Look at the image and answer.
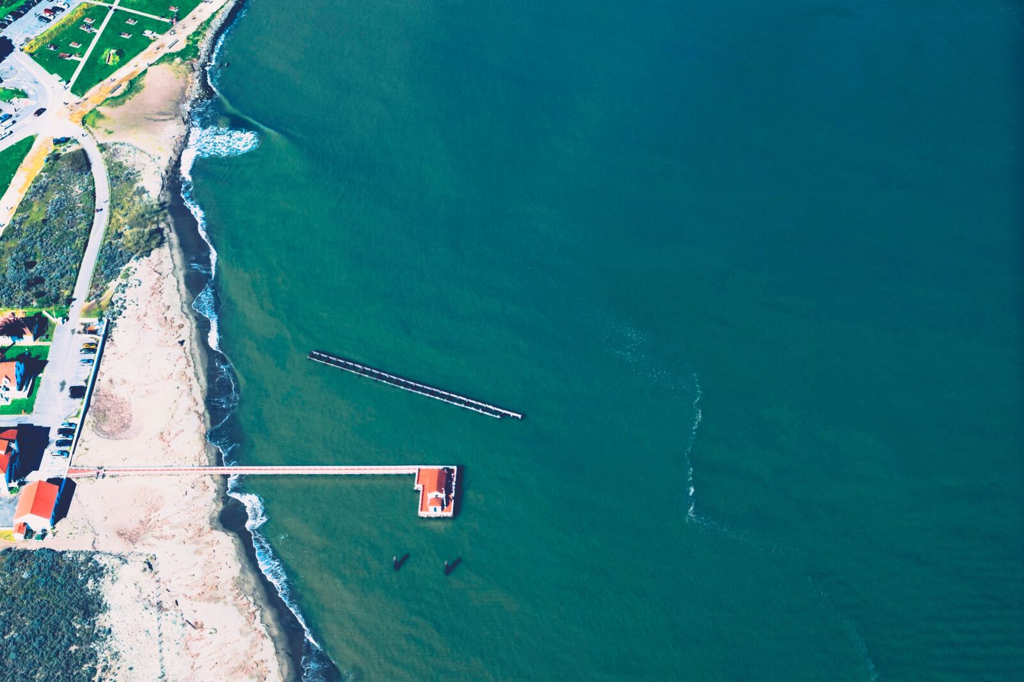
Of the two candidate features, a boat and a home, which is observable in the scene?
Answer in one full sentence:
The one in the frame is a home.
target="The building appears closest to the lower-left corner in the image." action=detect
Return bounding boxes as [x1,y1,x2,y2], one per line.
[13,479,60,540]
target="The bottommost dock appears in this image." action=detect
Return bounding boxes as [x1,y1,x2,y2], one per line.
[65,463,456,518]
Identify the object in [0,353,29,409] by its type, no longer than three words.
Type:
house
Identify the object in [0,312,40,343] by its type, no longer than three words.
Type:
house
